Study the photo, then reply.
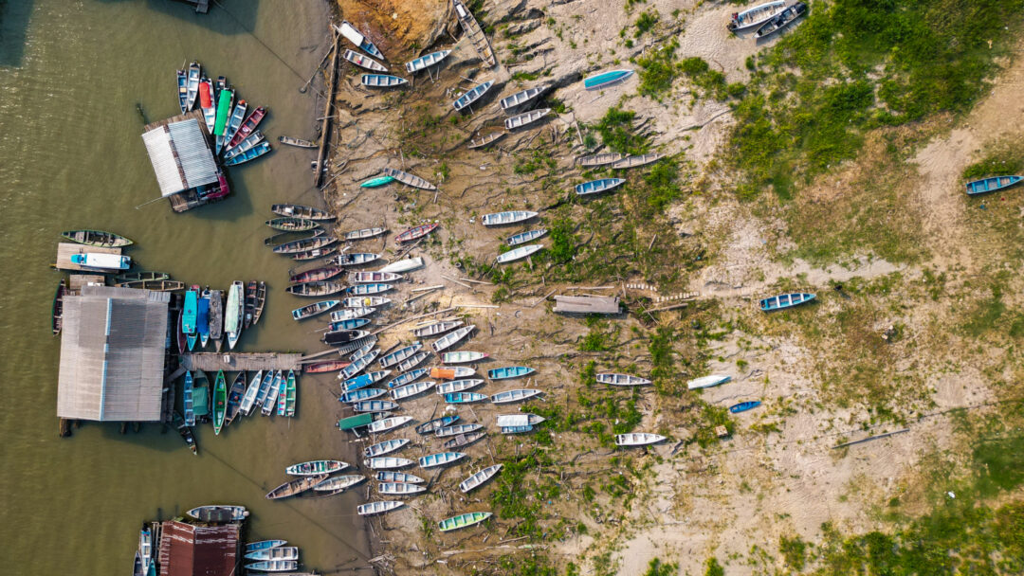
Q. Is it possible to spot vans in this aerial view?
No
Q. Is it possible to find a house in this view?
Yes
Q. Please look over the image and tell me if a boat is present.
Yes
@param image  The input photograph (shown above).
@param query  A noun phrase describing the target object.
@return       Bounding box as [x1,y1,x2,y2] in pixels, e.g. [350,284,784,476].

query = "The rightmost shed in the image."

[552,297,624,313]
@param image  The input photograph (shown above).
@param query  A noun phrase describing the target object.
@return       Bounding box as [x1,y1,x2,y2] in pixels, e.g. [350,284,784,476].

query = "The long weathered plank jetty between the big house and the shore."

[180,353,302,371]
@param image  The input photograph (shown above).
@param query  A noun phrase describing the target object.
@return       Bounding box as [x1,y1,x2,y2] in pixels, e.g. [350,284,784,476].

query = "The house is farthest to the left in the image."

[57,286,181,437]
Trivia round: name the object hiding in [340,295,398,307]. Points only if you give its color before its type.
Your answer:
white boat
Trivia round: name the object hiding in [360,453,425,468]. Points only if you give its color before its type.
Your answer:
white boat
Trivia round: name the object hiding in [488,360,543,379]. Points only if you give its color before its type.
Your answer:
blue boat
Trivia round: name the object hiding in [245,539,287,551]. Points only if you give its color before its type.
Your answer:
blue boat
